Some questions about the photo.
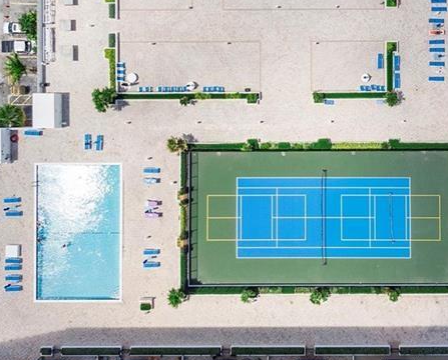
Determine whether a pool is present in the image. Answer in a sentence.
Yes, there is a pool in the image.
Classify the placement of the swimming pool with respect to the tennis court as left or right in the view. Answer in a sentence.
You can see the swimming pool positioned to the left of the tennis court.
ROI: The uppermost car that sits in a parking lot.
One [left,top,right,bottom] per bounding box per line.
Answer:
[2,20,21,34]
